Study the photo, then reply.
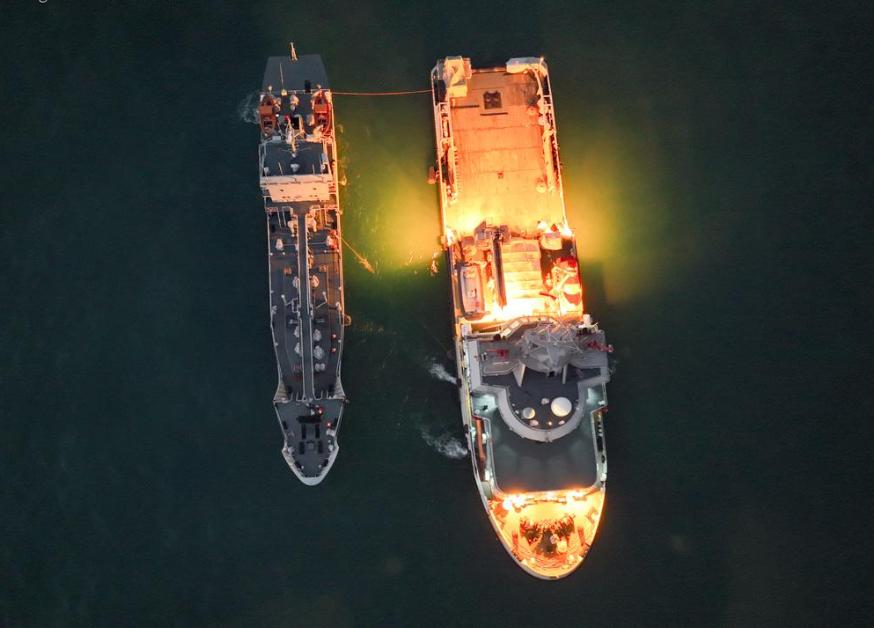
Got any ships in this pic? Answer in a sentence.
Yes, looking at the shot, I can spot a ship.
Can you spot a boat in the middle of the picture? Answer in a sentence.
Yes, there is a boat in the middle of the picture.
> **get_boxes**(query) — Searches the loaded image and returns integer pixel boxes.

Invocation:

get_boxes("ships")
[255,41,356,486]
[428,55,615,579]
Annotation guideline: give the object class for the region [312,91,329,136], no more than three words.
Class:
boat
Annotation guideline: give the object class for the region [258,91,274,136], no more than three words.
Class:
boat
